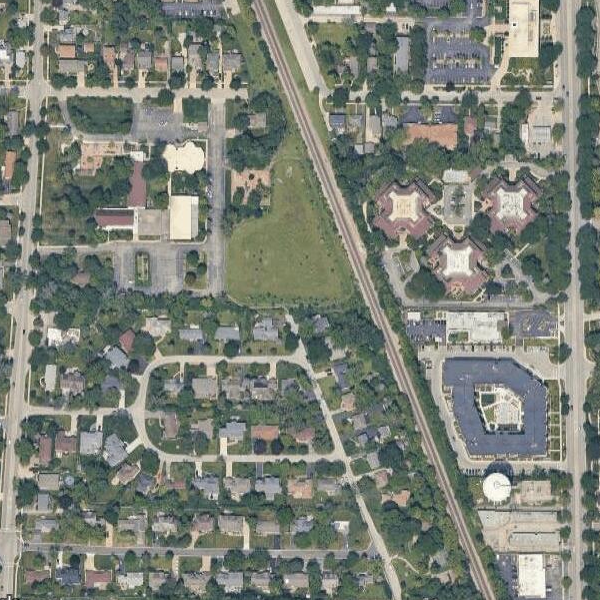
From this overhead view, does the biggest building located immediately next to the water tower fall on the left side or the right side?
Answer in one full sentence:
The biggest building located immediately next to the water tower sits on the right side.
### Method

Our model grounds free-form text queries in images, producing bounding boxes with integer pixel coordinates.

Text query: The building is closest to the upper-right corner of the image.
[510,0,539,61]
